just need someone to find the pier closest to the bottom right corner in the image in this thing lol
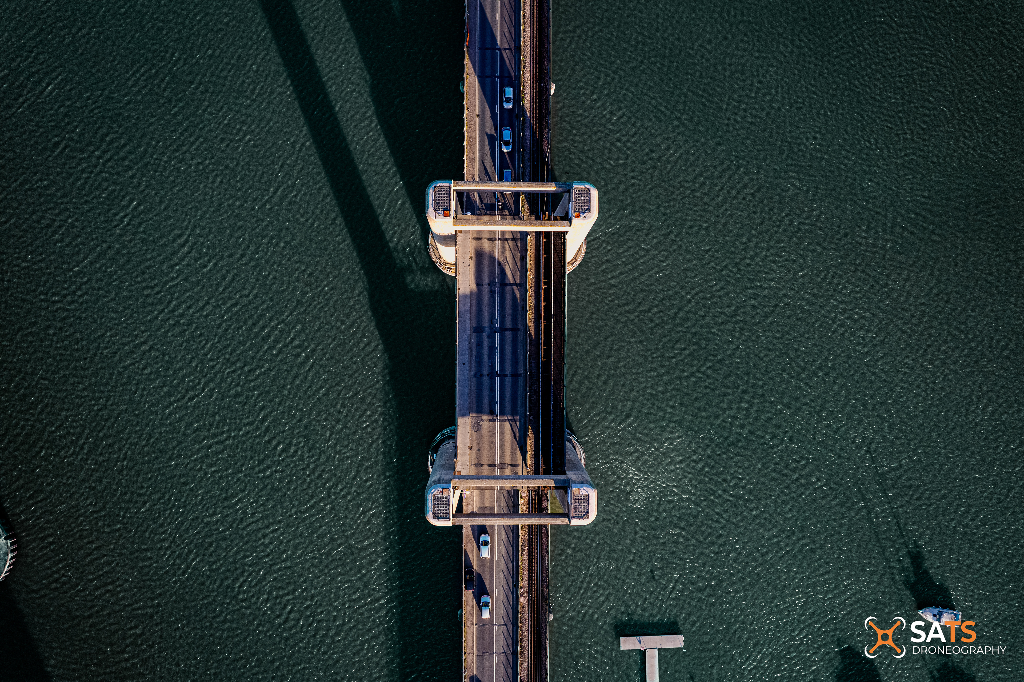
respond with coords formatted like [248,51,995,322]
[620,635,685,682]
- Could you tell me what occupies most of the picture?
water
